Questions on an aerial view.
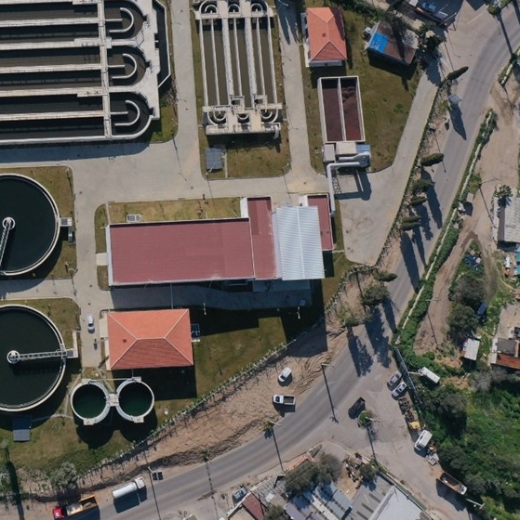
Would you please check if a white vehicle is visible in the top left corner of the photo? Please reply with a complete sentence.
No, no white vehicle is visible in the top left corner of the photo.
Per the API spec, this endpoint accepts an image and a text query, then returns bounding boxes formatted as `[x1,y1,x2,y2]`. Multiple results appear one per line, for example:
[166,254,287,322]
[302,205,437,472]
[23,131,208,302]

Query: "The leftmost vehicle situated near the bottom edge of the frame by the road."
[55,499,99,519]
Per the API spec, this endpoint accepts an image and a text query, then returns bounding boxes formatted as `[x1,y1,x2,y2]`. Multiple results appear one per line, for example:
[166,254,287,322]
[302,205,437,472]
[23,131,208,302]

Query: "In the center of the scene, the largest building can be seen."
[104,197,312,311]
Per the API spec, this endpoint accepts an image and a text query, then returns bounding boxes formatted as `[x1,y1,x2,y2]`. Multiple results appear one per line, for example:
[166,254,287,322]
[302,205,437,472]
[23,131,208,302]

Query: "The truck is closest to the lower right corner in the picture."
[438,473,471,497]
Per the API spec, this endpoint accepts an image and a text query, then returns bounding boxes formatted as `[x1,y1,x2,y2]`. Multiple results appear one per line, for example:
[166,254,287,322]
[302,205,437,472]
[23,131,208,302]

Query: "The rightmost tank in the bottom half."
[116,376,155,423]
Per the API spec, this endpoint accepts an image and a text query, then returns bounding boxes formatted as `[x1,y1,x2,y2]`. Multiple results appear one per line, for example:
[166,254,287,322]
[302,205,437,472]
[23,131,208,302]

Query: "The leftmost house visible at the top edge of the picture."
[301,7,348,66]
